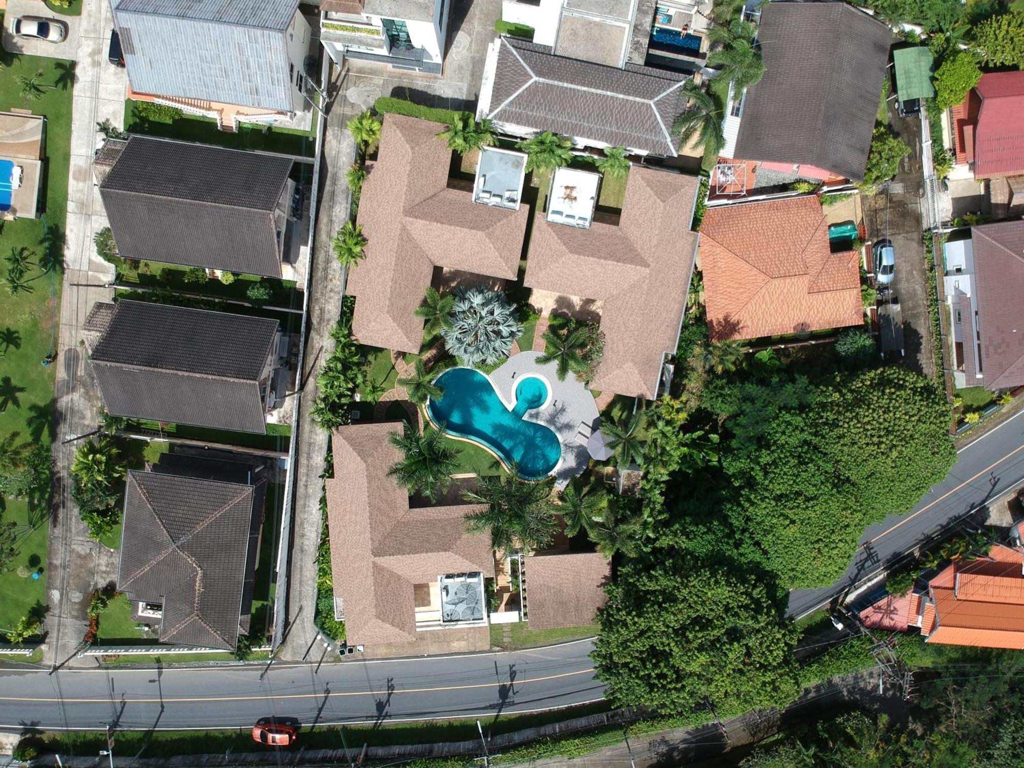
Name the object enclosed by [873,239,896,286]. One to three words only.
car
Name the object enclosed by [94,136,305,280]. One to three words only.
house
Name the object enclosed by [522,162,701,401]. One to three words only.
house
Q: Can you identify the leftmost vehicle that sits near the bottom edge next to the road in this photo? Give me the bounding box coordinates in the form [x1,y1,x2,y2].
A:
[254,718,297,743]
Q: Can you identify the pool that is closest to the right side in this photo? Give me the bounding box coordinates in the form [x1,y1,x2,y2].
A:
[647,0,713,72]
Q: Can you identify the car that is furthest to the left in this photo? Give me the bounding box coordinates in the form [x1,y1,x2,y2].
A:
[10,17,66,45]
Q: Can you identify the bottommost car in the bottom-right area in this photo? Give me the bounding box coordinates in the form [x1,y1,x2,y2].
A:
[824,608,846,630]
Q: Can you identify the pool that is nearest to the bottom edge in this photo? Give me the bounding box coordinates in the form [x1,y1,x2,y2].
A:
[420,364,565,486]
